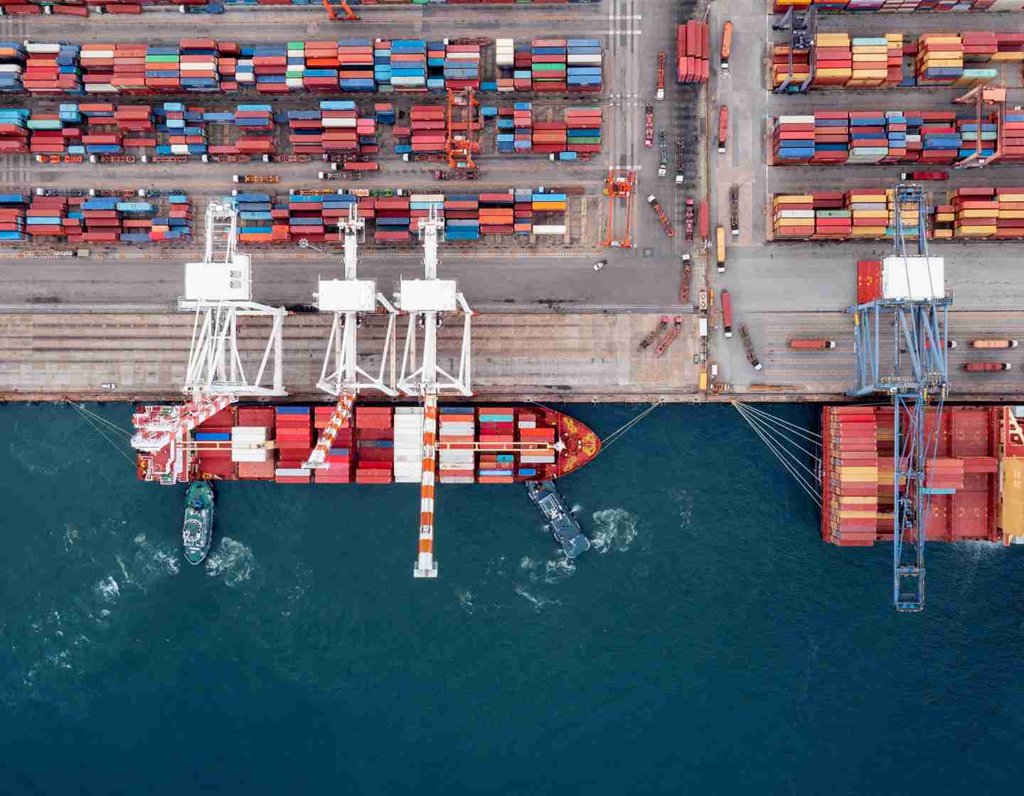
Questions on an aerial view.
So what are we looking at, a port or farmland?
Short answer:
port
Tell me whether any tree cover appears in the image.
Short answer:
No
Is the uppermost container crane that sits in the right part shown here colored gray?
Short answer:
Yes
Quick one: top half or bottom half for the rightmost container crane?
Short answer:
top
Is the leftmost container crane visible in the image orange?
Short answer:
No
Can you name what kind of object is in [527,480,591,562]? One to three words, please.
boat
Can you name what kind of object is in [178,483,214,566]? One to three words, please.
boat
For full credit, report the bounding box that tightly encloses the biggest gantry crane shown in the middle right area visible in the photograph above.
[831,186,955,610]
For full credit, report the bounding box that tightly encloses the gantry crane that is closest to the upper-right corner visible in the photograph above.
[942,78,1005,168]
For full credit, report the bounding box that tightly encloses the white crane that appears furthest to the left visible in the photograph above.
[130,203,299,456]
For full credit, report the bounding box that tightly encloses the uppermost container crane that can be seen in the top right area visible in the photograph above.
[766,3,817,91]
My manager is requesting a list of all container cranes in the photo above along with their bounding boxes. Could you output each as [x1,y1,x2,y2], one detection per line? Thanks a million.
[942,78,1005,168]
[130,203,299,456]
[396,201,485,576]
[445,84,484,167]
[831,186,955,610]
[766,3,817,91]
[298,201,411,471]
[603,167,637,245]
